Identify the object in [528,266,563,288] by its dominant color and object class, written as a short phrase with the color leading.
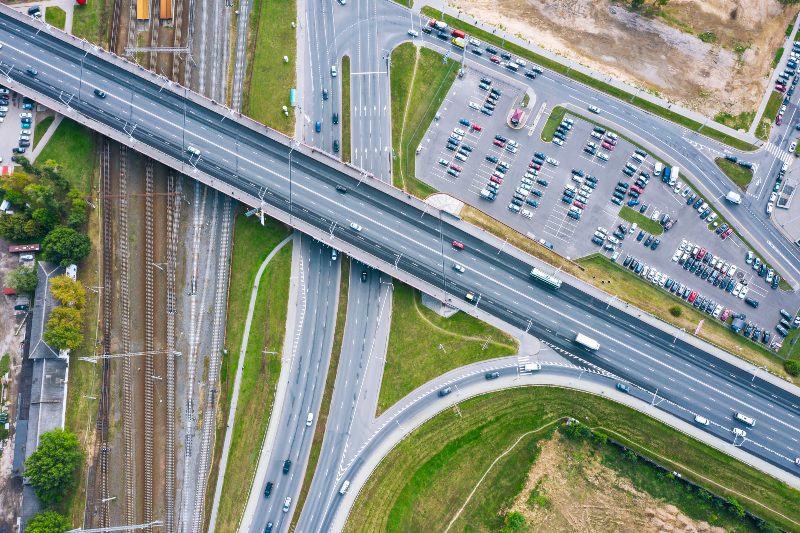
white bus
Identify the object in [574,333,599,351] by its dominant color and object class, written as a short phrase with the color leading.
white vehicle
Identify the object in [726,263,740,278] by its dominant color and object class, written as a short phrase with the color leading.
white vehicle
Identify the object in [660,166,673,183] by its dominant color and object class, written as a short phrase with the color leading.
blue vehicle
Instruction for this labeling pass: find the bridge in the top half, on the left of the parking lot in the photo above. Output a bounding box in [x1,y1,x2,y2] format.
[0,2,460,318]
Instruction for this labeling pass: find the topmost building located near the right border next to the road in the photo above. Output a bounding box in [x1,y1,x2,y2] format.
[772,177,800,211]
